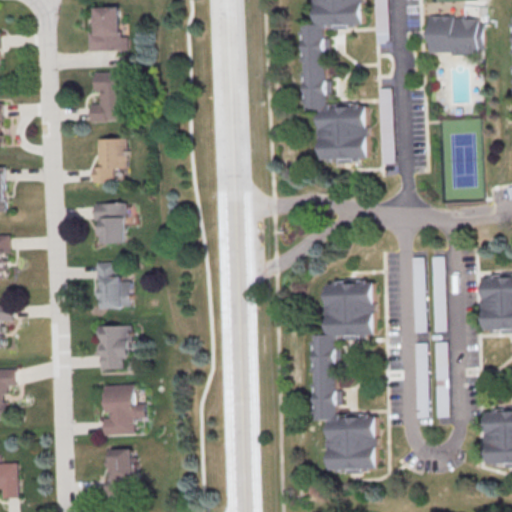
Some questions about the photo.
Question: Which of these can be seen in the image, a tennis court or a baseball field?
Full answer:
I can see a tennis court in this picture.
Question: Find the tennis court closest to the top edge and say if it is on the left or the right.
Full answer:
You can find the tennis court closest to the top edge on the right side of the picture.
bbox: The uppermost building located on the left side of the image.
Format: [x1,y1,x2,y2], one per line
[87,8,132,50]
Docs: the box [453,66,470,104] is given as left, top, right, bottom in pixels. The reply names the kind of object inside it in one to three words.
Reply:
swimming pool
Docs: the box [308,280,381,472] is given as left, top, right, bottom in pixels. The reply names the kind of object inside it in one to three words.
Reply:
building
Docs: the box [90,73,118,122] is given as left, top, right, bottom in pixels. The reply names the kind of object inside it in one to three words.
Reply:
house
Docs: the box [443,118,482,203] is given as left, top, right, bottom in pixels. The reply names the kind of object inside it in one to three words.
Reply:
tennis court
